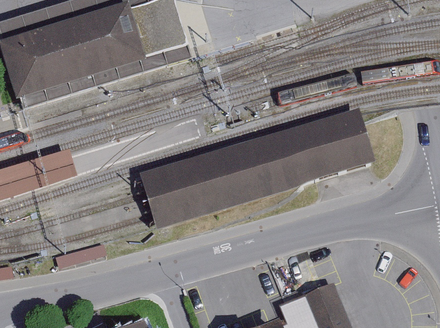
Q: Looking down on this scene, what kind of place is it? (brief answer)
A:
rail yard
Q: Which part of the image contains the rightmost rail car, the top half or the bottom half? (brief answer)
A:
top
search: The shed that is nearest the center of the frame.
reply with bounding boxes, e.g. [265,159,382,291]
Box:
[140,108,374,230]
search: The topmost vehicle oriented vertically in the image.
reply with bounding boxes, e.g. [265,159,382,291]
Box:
[418,122,430,145]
